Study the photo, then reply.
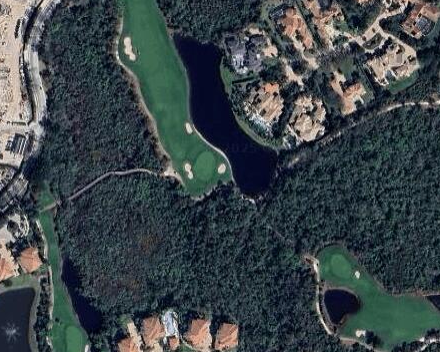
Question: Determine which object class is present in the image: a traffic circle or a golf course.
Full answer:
This aerial view contains a golf course.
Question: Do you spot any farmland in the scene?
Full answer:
No, farmland can't be seen anywhere here.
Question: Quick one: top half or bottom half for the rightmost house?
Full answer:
The rightmost house is in the top half of the image.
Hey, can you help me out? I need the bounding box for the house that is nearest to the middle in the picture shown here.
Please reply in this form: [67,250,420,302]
[242,87,280,123]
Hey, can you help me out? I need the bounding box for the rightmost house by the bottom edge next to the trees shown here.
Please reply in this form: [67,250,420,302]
[212,322,239,349]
